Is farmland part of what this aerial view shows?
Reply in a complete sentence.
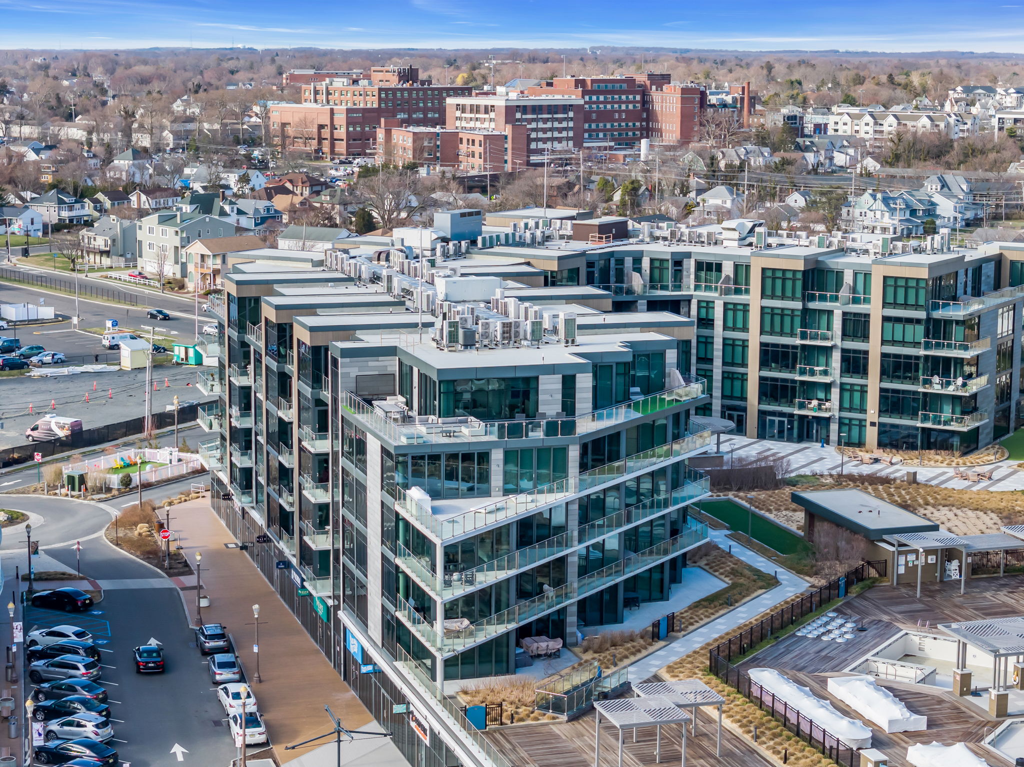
No, there's no farmland in this view.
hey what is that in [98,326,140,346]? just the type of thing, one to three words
vehicle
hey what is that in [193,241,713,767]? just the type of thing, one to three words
building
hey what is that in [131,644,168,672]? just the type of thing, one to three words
car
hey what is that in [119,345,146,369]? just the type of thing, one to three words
shed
